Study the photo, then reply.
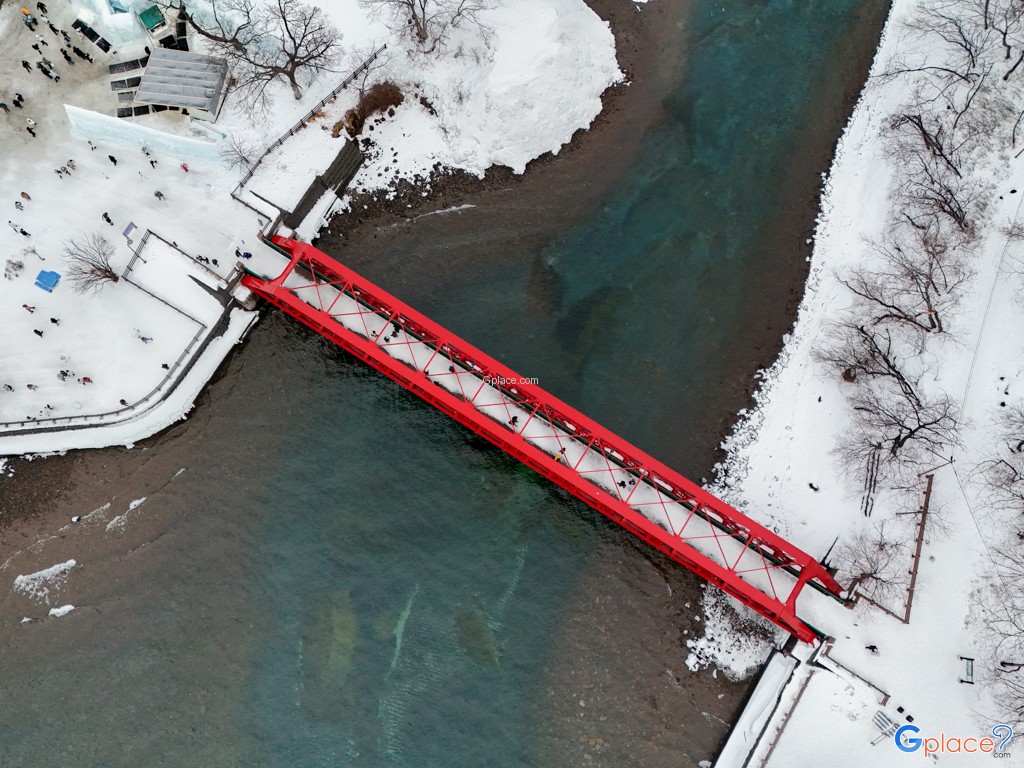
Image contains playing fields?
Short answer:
No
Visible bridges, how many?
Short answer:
1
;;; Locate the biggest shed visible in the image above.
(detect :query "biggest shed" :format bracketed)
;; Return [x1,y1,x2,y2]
[134,47,231,129]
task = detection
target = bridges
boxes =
[238,231,847,649]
